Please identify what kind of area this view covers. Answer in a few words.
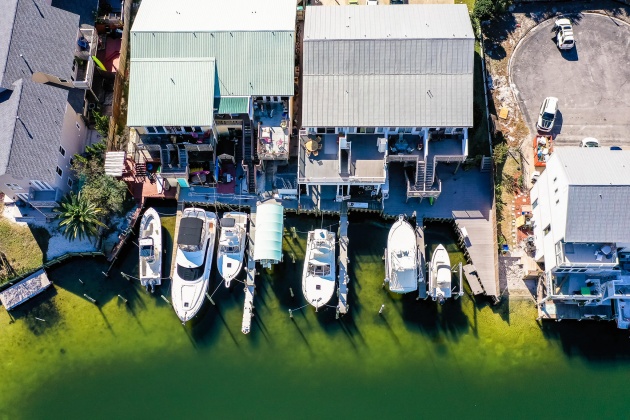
residential area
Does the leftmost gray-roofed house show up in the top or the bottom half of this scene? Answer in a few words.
top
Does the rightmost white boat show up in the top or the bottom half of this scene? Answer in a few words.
bottom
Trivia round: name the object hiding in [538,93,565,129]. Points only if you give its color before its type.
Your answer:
white car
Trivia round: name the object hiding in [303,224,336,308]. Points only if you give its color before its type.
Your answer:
white boat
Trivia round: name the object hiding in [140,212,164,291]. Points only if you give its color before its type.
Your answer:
white boat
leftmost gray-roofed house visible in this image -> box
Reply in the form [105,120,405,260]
[0,0,113,231]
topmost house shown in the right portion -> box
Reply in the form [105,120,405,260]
[303,5,474,197]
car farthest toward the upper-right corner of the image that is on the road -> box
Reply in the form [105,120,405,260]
[552,14,578,47]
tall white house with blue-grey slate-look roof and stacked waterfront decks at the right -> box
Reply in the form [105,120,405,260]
[527,149,630,337]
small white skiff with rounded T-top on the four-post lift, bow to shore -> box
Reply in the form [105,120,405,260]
[431,248,451,299]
